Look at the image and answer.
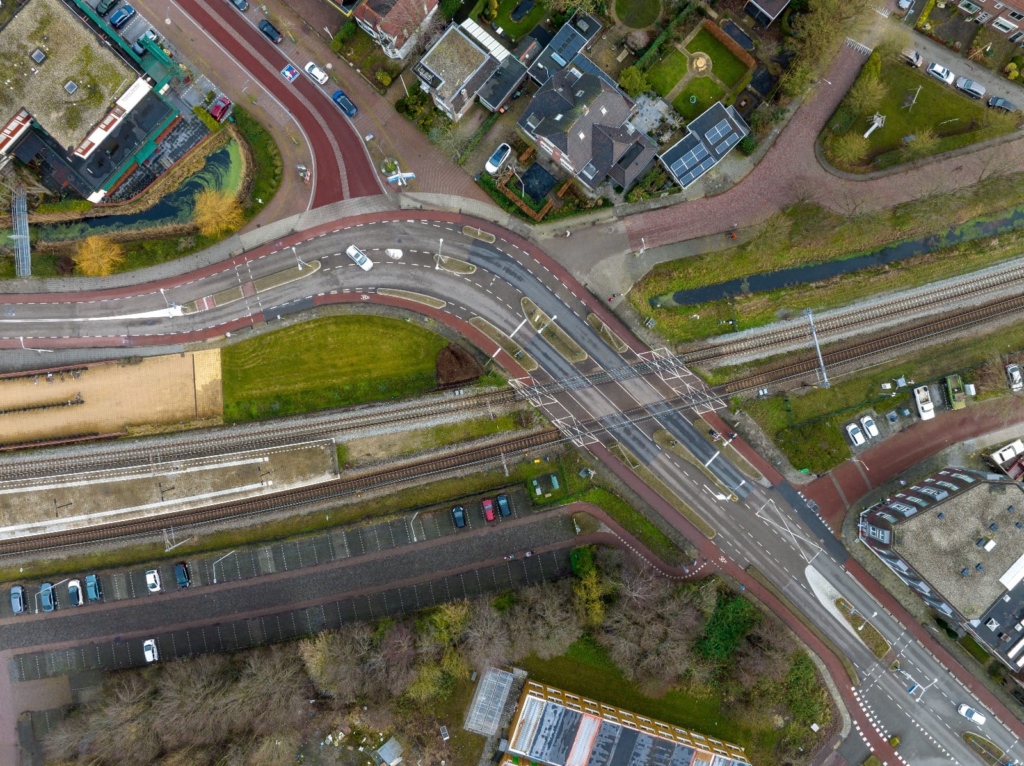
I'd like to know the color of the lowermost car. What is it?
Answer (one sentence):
The color of the lowermost car is white.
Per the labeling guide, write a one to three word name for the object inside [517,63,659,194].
house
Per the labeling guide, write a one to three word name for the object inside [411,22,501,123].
house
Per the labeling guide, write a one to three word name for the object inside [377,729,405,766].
shed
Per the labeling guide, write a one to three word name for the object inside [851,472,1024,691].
building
